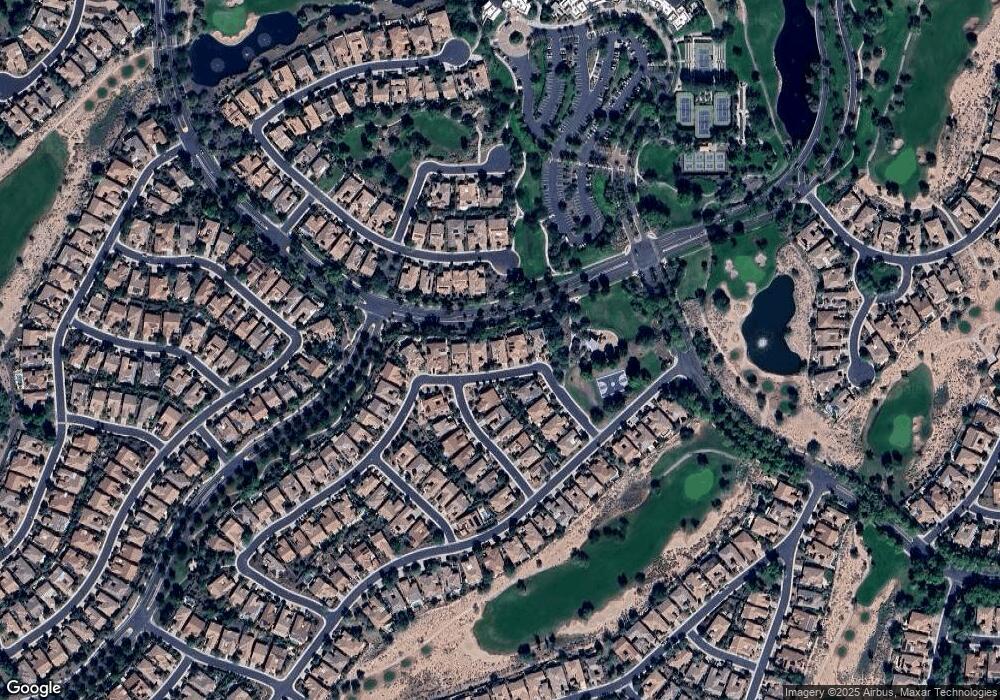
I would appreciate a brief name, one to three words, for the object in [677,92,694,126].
tennis court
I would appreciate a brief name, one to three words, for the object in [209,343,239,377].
house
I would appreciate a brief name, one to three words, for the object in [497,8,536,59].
roundabout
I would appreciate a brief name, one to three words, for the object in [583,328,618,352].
playground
